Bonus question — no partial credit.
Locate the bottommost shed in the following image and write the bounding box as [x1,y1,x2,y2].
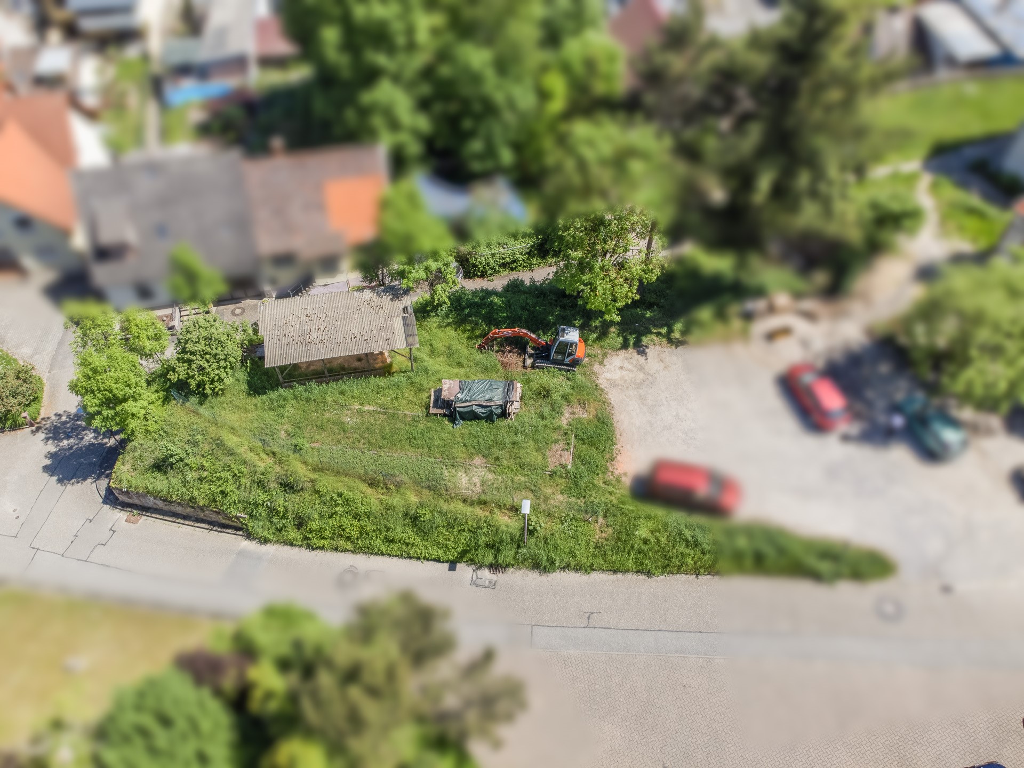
[260,286,421,386]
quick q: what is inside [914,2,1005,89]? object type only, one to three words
building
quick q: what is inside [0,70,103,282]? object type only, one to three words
house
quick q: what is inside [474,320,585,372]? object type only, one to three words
work vehicle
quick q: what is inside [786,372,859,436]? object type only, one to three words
car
